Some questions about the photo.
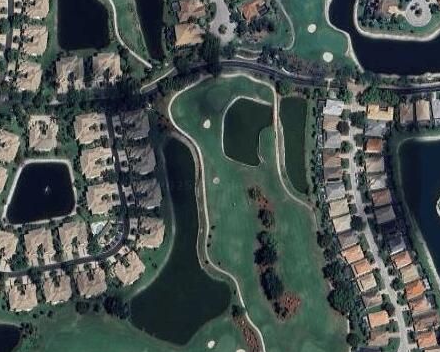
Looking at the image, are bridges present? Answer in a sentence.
No, no bridge can be seen from above.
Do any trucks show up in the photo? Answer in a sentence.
No, there appears to be no truck in this shot.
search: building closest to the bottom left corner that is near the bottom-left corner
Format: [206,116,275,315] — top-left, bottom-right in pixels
[9,284,38,310]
